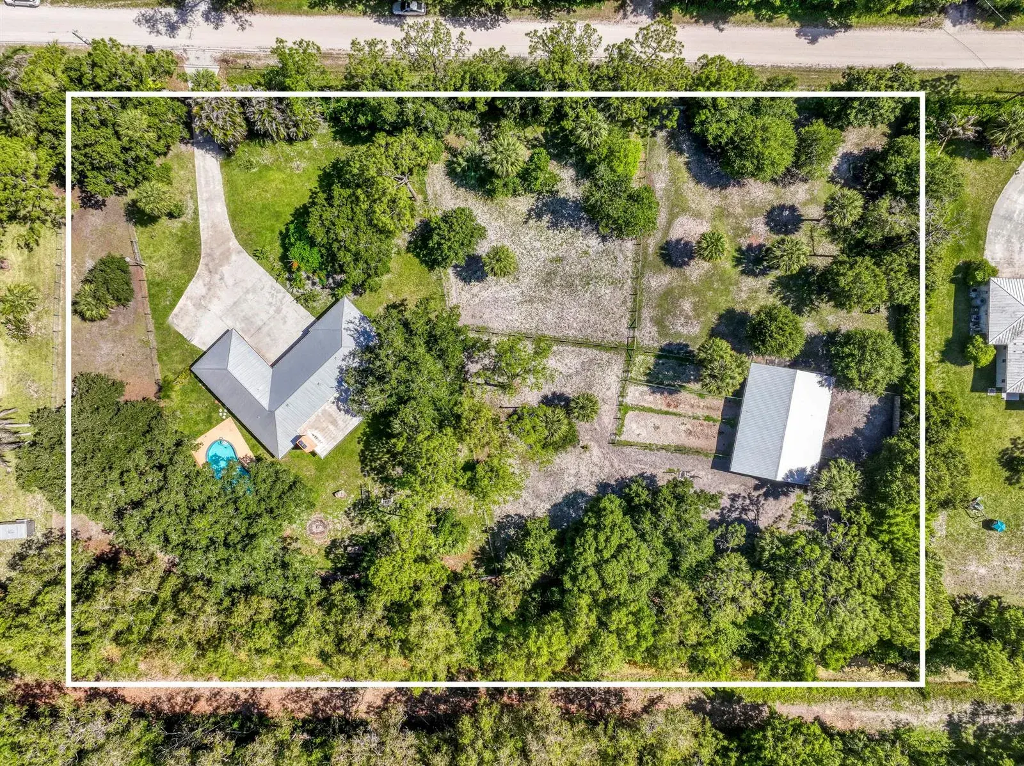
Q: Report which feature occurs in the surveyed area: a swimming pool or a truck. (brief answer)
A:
swimming pool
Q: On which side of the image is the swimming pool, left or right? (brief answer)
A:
left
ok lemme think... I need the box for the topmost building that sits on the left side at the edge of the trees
[190,296,388,459]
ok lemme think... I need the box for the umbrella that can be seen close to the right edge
[990,521,1008,534]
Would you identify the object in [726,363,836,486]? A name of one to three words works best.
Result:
barn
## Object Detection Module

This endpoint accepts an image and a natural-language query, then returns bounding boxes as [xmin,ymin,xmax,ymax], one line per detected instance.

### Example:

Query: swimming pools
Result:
[190,417,277,524]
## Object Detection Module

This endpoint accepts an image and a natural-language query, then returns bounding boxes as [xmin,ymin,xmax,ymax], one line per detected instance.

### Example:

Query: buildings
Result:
[969,277,1024,399]
[726,363,836,486]
[190,296,388,459]
[0,517,40,538]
